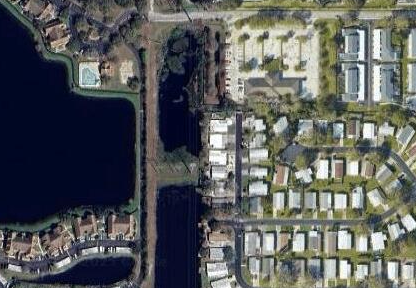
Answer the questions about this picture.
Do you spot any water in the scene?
Yes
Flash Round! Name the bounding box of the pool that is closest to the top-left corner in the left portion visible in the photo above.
[79,62,101,87]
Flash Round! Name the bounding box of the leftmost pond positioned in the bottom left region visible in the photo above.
[16,256,134,285]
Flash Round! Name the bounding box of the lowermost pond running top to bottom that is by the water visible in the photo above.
[155,185,203,288]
